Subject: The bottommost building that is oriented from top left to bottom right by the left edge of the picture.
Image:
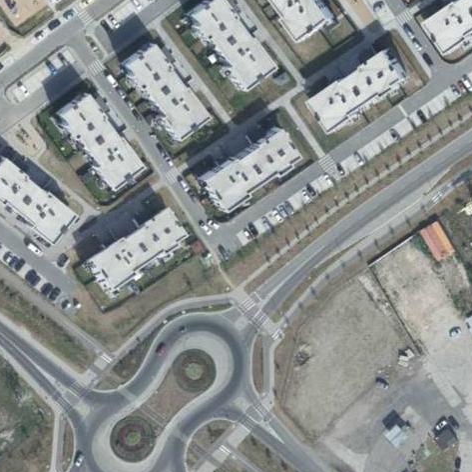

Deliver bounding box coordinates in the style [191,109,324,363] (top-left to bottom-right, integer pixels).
[0,153,78,242]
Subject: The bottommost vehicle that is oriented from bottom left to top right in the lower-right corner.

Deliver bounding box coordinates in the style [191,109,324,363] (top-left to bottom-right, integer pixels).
[433,418,450,433]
